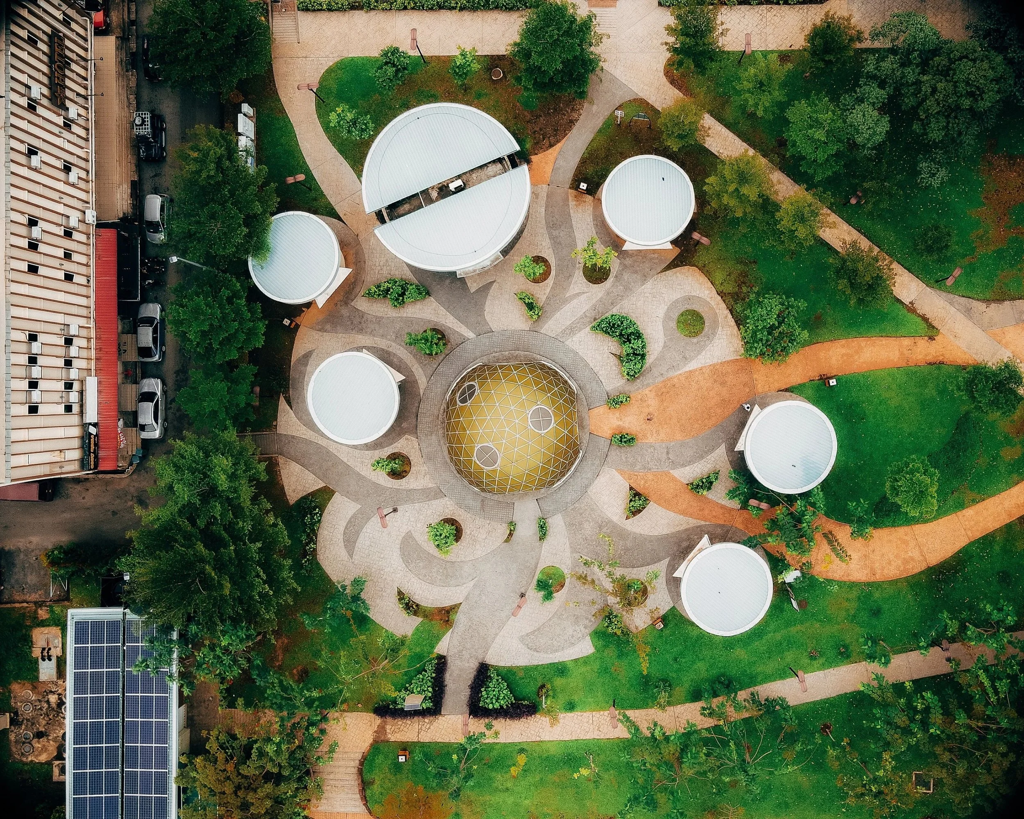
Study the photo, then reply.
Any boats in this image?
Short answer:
No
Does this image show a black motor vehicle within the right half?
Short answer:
No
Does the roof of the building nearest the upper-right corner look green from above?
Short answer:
No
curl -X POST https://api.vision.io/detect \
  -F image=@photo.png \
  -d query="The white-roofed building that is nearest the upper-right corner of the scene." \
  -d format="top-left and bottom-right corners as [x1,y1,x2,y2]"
[602,154,694,250]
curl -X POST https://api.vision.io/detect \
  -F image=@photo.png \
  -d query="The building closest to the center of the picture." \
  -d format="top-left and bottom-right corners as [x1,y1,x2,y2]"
[307,349,405,445]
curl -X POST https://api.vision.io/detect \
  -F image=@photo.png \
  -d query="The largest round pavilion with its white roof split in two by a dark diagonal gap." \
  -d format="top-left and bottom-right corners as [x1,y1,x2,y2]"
[362,102,531,278]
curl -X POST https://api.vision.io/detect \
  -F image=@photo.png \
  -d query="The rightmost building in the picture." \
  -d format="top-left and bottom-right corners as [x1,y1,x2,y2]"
[735,401,837,494]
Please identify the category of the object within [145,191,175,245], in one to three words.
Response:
car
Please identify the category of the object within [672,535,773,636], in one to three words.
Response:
building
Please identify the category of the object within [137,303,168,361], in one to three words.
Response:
car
